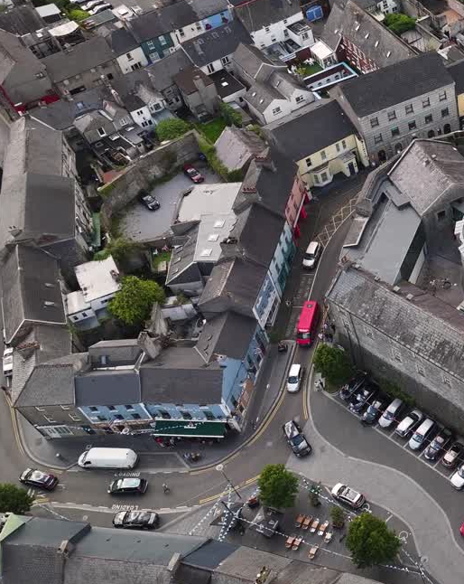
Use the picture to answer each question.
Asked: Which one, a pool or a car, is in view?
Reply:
car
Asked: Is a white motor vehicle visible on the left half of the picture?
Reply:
Yes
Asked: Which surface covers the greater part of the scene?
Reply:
buildings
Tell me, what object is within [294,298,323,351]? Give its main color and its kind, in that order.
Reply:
red vehicle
